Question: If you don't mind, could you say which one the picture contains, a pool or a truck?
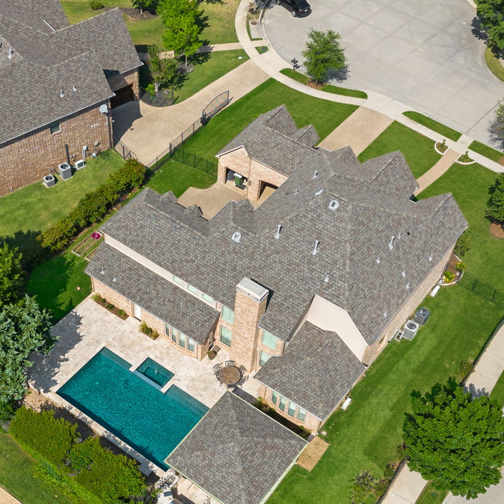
pool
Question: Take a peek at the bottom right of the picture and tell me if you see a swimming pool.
No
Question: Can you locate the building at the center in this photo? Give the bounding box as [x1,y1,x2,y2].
[84,104,469,437]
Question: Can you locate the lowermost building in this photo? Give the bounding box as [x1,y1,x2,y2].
[163,391,310,504]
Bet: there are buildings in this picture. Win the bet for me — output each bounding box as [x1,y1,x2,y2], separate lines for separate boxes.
[163,391,310,504]
[0,0,144,194]
[84,104,469,437]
